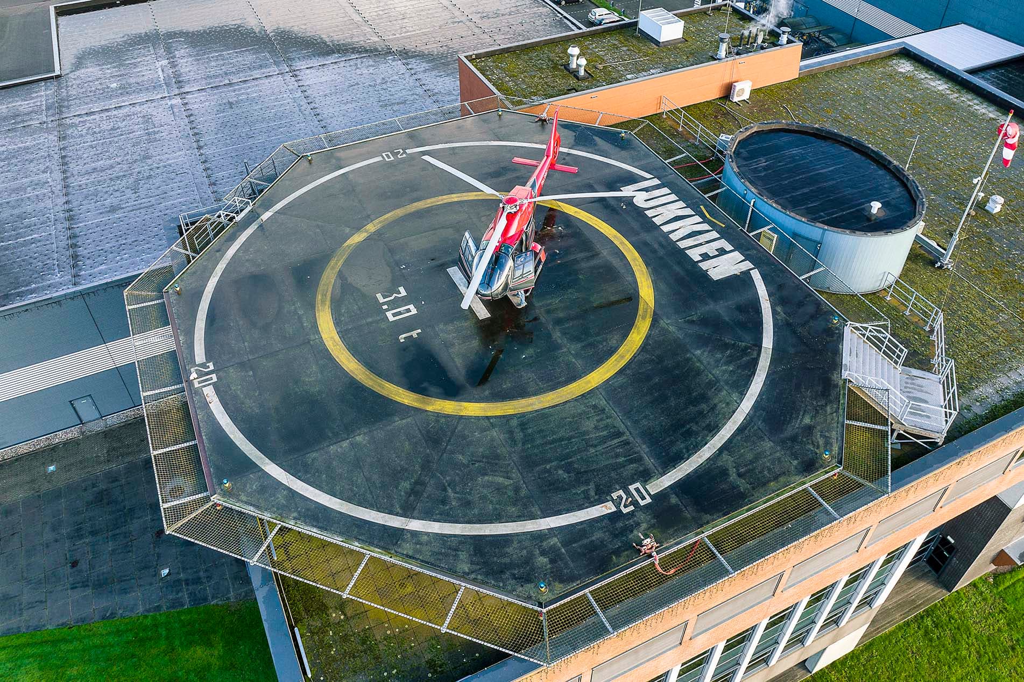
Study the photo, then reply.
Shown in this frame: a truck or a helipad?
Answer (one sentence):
Visible in the photo is a helipad.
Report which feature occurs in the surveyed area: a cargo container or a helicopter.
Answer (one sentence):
Looking from above, you can make out a helicopter.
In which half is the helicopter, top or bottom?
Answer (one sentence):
The helicopter is in the top half of the image.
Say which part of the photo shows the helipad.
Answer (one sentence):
Look in the center portion of the view to spot the helipad.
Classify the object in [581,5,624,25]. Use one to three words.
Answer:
car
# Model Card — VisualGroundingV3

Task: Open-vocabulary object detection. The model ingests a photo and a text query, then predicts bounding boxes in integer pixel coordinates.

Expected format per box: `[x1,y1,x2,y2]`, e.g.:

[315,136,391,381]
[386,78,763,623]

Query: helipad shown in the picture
[123,95,892,668]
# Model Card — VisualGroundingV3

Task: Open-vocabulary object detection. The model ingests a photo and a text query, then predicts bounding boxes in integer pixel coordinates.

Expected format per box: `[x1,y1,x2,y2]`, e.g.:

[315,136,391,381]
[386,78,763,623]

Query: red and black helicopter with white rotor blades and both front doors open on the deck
[418,101,645,305]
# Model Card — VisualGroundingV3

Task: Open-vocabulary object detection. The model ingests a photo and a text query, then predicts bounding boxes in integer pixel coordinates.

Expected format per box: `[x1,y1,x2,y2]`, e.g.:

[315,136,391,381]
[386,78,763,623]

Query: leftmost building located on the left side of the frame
[0,0,584,450]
